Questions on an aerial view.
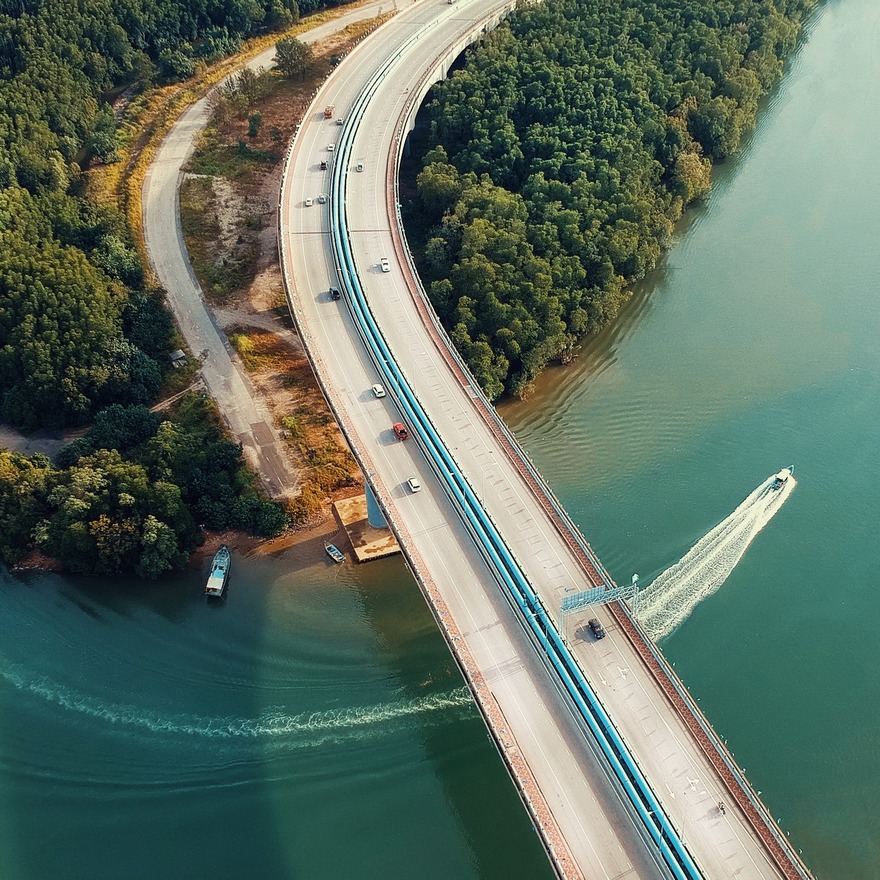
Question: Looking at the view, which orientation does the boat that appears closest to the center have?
at an angle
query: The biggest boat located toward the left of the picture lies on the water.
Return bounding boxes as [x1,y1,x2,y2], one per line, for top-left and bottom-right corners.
[208,547,229,605]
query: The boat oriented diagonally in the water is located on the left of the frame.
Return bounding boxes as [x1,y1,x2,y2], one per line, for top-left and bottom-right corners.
[321,541,367,572]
